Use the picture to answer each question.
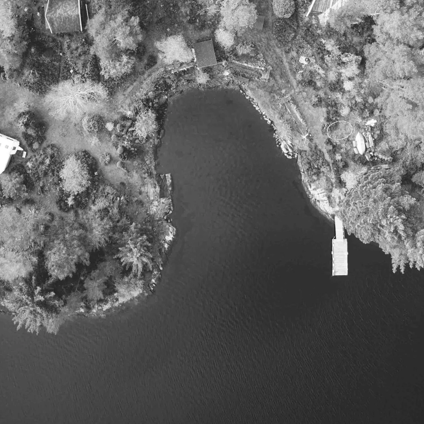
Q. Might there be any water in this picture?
Yes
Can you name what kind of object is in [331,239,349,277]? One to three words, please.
pier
